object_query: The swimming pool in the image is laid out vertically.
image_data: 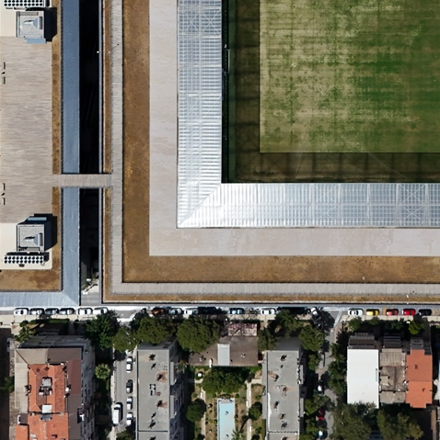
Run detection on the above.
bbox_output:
[217,399,235,440]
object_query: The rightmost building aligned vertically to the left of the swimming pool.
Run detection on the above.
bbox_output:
[137,335,183,440]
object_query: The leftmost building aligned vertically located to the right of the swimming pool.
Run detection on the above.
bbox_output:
[266,335,307,440]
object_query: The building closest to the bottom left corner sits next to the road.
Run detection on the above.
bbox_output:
[14,333,97,440]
